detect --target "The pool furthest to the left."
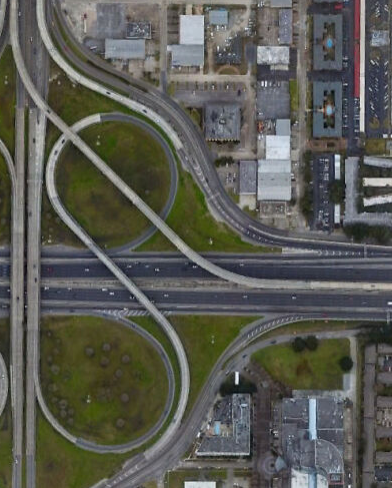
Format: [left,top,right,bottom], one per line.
[205,422,232,437]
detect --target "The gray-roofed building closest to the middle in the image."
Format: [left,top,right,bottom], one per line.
[239,161,256,194]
